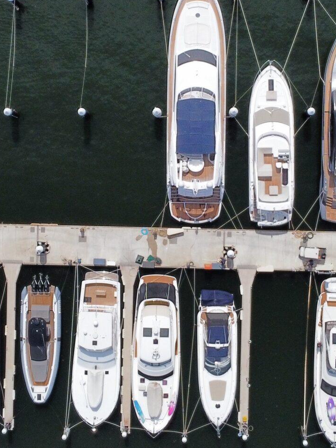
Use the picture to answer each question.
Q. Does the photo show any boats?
Yes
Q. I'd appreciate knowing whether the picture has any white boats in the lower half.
Yes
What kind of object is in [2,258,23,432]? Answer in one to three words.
pier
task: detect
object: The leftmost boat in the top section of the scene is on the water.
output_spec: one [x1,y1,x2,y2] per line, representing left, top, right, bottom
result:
[166,0,228,223]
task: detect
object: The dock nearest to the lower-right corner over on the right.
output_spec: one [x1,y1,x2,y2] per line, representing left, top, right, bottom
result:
[236,265,257,433]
